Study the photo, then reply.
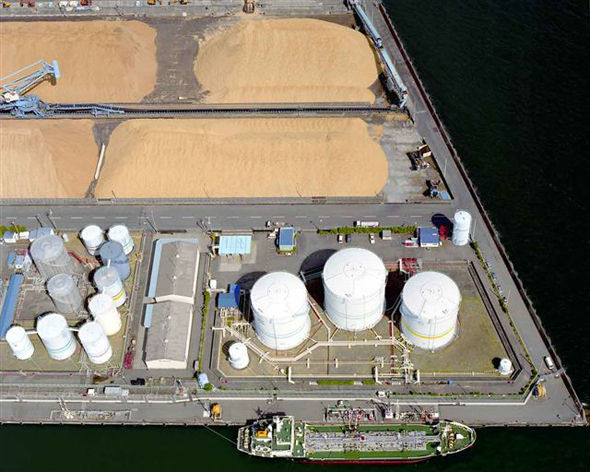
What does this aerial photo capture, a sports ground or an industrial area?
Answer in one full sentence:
This looks like an industrial area.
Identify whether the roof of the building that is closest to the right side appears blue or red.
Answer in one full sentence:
In this view, the roof of the building that is closest to the right side is blue.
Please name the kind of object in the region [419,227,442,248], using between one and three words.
building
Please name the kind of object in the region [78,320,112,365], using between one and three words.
storage tank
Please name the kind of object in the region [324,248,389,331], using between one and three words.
storage tank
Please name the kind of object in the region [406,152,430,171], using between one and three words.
work vehicle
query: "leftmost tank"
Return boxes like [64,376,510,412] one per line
[5,324,36,361]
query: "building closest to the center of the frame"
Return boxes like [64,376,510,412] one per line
[279,228,294,254]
